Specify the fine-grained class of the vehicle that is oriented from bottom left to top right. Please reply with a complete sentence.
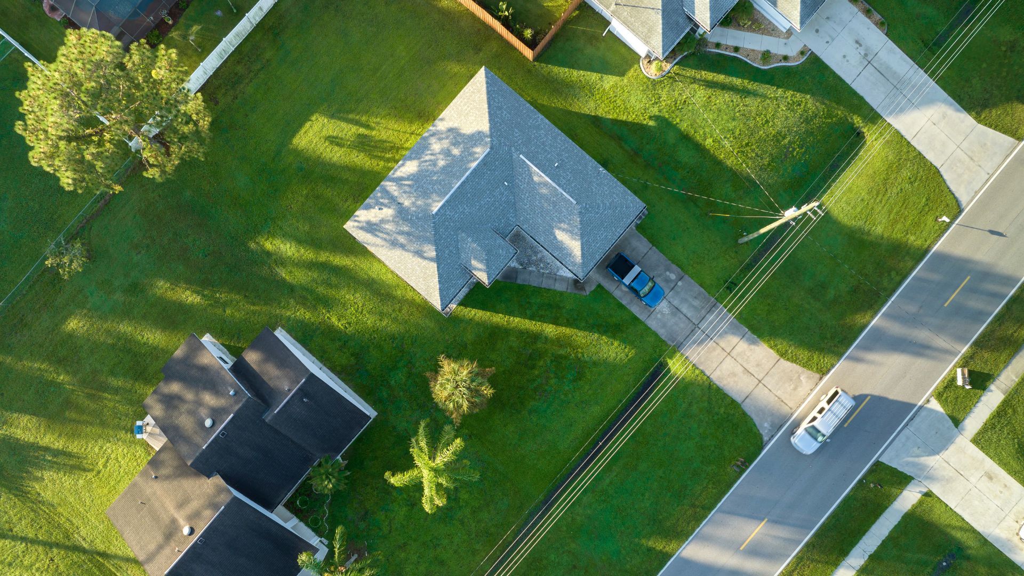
The vehicle that is oriented from bottom left to top right can be classified as an automobile.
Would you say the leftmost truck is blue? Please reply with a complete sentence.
Yes, the leftmost truck appears blue.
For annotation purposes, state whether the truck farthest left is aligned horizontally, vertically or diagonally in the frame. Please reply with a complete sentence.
I'd say the truck farthest left is aligned diagonally in the picture.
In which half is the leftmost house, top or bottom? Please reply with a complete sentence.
It is in the bottom half that the leftmost house appears.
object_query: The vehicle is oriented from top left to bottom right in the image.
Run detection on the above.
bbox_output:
[604,251,664,308]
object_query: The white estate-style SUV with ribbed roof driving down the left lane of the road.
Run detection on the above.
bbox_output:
[791,387,856,452]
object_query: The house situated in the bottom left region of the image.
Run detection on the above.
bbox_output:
[106,327,373,576]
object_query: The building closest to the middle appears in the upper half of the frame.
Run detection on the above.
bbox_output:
[342,66,648,313]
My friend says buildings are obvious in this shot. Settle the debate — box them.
[106,327,373,576]
[342,66,648,313]
[582,0,830,66]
